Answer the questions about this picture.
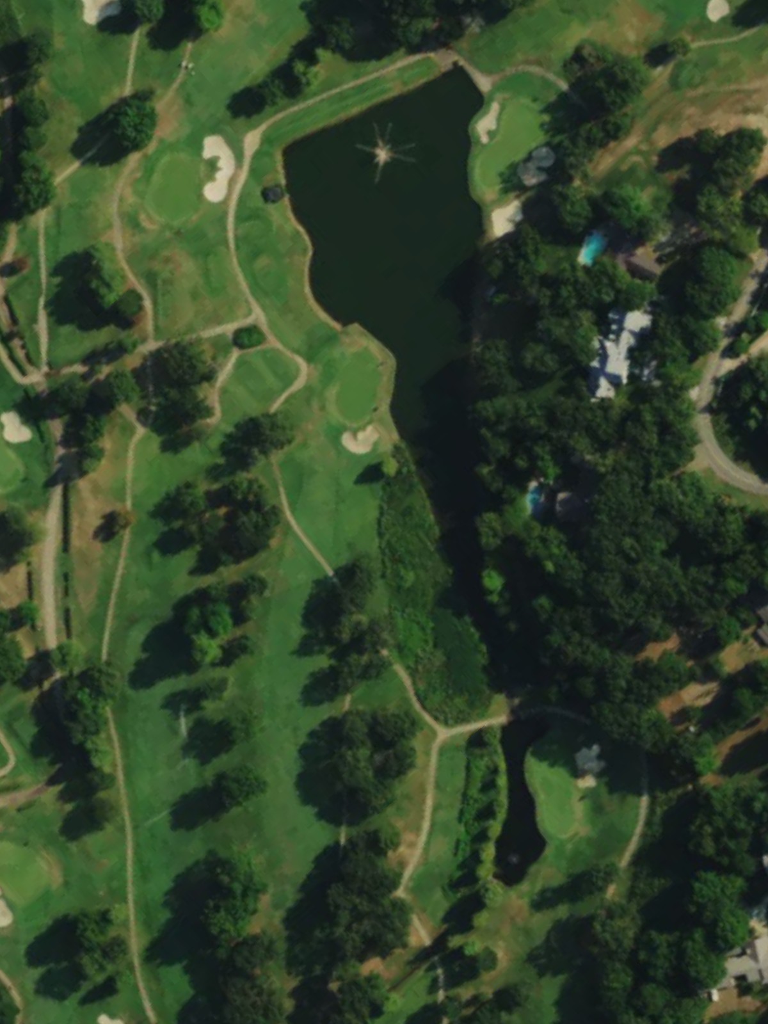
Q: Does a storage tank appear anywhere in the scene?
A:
No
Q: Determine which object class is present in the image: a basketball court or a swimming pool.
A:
swimming pool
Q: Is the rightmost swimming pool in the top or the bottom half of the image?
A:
top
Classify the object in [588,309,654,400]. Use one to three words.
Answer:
house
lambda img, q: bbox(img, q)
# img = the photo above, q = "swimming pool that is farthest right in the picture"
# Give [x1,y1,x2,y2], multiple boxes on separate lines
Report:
[581,231,607,263]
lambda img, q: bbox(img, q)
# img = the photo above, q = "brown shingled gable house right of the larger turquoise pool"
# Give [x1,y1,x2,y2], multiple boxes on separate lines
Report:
[616,245,664,282]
